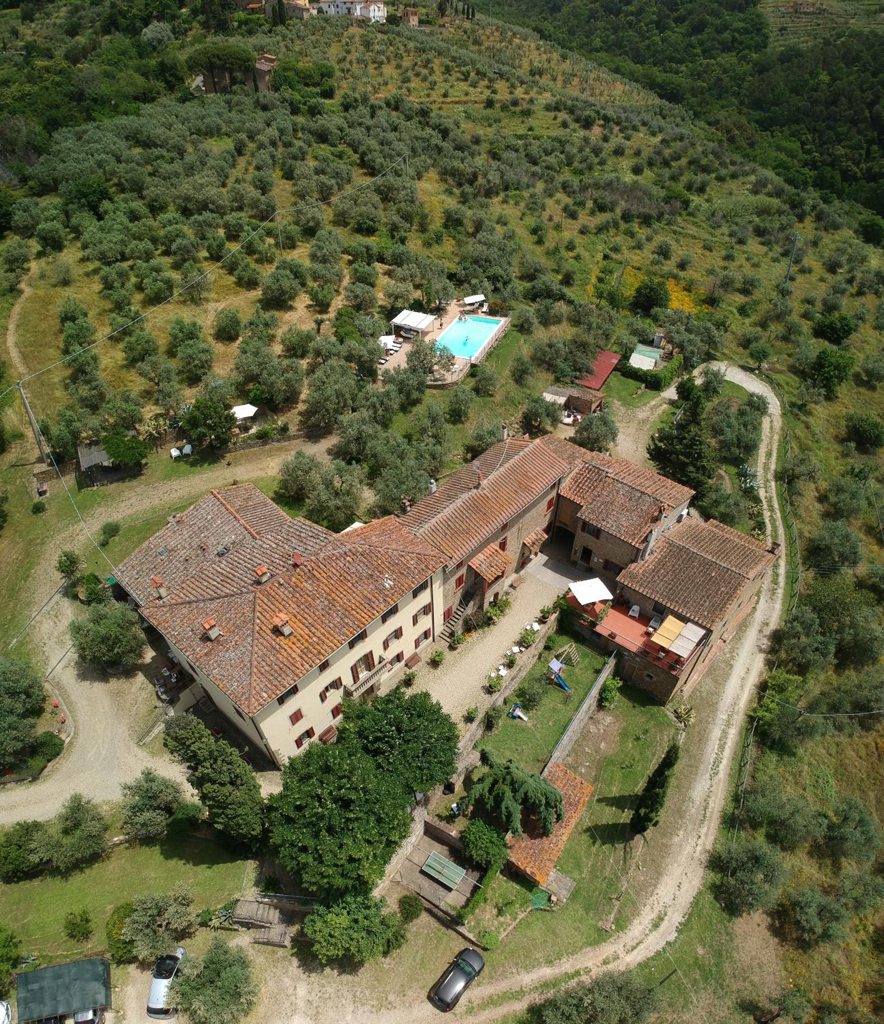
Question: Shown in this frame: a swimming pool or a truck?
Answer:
swimming pool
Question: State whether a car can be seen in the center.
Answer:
No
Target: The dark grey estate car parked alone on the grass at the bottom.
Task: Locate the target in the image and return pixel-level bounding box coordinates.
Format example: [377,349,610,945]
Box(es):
[429,943,482,1021]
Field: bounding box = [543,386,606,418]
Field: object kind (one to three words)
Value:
shed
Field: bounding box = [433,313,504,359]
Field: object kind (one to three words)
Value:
swimming pool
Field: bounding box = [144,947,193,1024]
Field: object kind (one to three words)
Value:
car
